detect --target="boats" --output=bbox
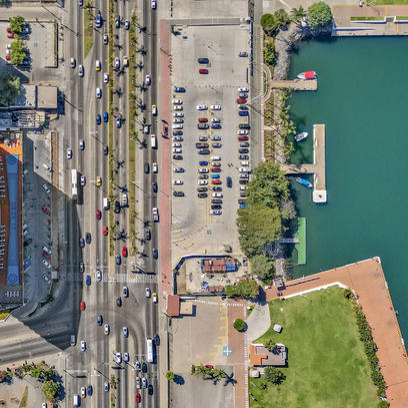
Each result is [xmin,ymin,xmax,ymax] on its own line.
[298,72,318,79]
[296,176,313,186]
[294,134,309,141]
